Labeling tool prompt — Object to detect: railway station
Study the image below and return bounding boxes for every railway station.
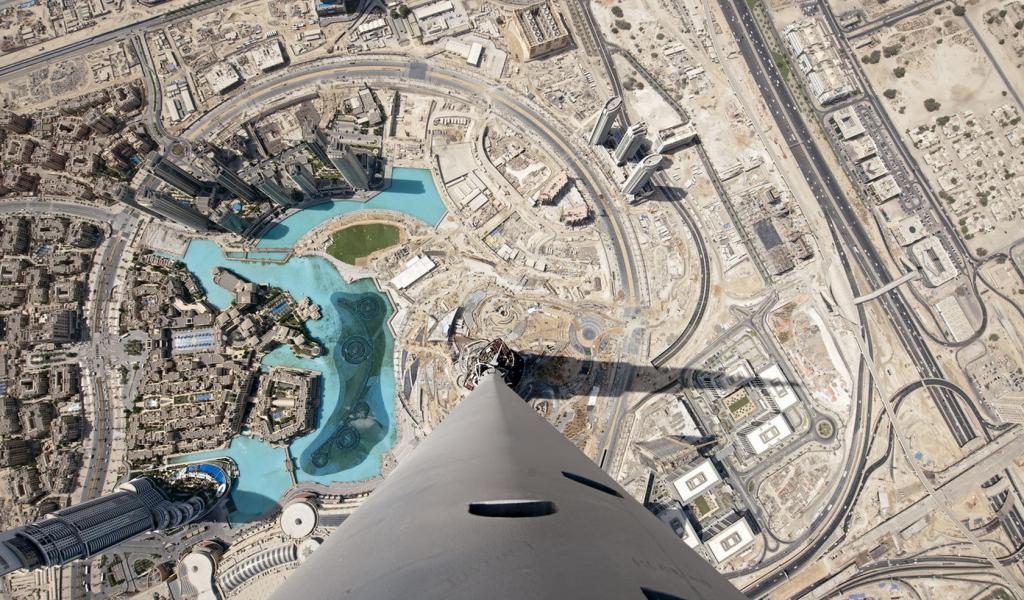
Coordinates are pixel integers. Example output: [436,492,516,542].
[821,263,852,303]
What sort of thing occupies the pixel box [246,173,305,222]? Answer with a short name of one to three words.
building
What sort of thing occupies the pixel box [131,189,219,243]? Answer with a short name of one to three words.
building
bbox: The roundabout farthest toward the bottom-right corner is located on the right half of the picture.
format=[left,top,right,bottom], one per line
[811,414,839,444]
